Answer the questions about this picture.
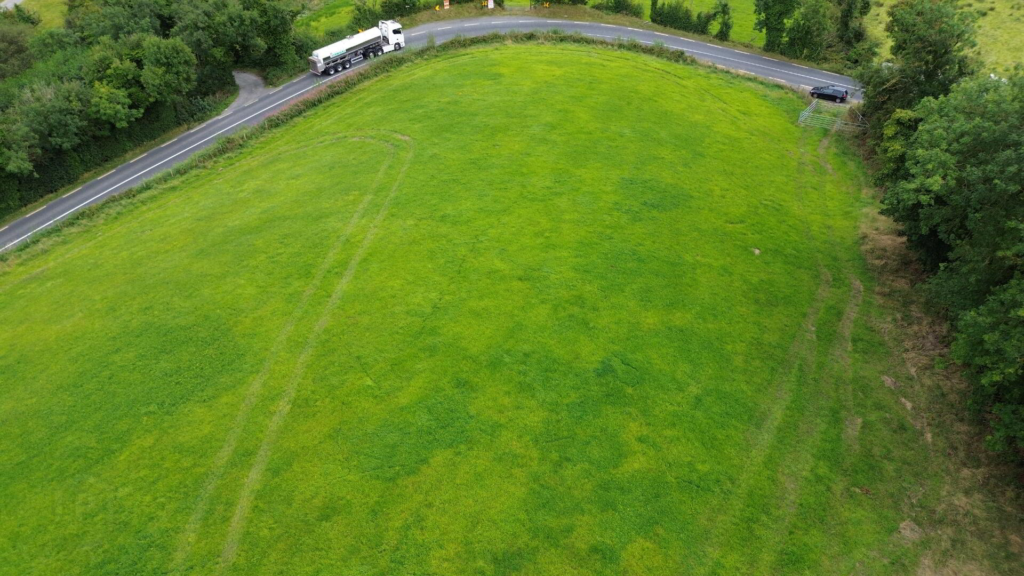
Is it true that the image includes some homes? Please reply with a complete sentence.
No, I can't see a single home in this photo.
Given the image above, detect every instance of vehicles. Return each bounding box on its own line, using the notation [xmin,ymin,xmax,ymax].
[307,16,405,76]
[811,85,850,103]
